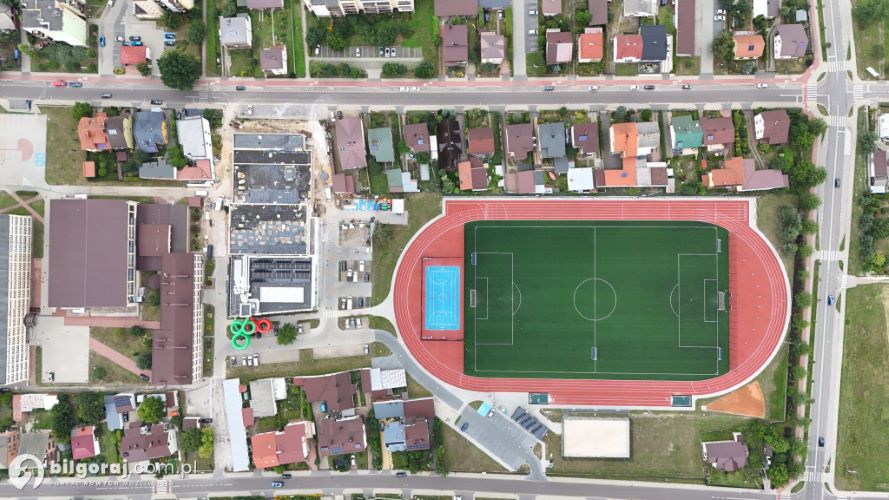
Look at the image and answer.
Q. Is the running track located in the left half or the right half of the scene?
right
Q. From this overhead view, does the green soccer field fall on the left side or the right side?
right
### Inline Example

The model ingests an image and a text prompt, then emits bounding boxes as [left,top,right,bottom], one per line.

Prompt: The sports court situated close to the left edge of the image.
[0,114,49,187]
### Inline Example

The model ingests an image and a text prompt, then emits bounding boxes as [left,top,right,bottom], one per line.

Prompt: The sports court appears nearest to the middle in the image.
[425,266,459,331]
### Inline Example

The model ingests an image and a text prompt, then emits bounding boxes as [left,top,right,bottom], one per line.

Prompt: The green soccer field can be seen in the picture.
[464,220,729,379]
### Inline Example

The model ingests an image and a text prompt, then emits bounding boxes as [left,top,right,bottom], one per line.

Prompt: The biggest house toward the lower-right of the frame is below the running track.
[701,431,747,470]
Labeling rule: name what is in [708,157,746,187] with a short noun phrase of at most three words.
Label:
house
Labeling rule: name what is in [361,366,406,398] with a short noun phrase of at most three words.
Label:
building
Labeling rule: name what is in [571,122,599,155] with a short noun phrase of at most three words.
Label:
house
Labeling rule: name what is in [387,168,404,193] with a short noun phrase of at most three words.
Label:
shed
